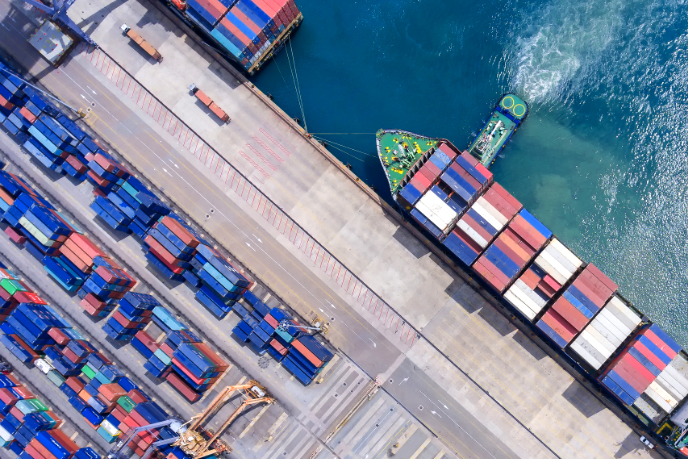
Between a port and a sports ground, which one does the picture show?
port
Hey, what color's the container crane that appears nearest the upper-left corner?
blue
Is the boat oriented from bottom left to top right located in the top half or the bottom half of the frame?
top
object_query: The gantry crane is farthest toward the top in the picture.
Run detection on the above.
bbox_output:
[32,0,104,52]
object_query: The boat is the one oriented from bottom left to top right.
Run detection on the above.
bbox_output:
[466,94,529,174]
